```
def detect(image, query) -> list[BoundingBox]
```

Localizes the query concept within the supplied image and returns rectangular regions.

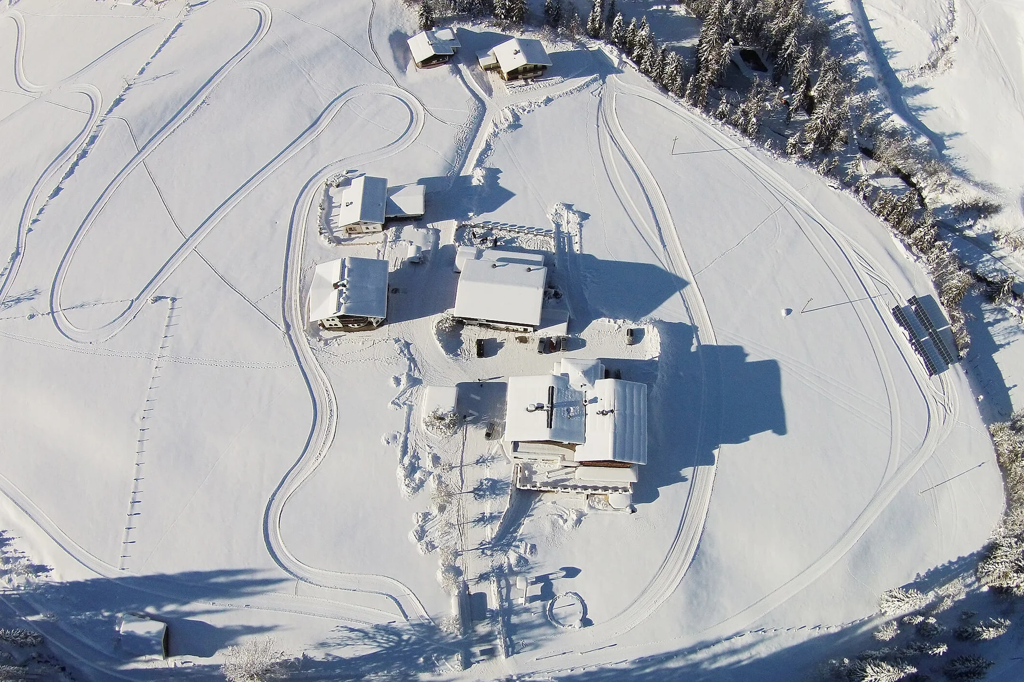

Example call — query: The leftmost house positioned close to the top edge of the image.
[408,28,461,79]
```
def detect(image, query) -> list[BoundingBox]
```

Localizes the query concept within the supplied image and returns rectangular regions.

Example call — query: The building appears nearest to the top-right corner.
[476,37,551,87]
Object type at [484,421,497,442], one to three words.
vehicle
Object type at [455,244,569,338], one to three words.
barn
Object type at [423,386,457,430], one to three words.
building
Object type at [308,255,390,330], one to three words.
house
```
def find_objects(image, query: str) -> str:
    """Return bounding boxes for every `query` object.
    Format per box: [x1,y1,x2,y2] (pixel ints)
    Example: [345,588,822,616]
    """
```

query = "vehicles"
[626,328,634,346]
[559,335,567,352]
[484,421,497,442]
[475,338,485,359]
[537,336,547,355]
[549,336,558,353]
[605,365,612,379]
[614,365,623,380]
